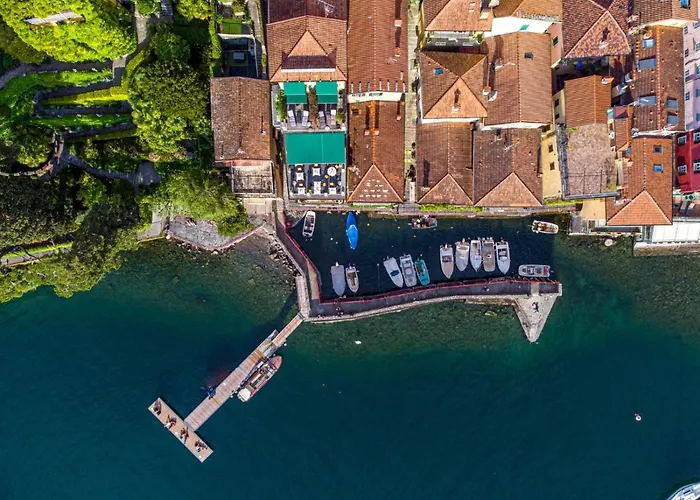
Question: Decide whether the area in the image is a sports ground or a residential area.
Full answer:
What you see here is a residential area.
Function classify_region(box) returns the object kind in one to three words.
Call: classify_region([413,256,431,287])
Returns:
boat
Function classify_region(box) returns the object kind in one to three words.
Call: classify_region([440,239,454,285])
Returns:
boat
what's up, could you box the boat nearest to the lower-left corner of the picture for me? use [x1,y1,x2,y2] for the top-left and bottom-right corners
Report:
[236,358,280,404]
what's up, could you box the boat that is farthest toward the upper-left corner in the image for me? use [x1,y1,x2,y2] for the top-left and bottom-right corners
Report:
[303,213,315,242]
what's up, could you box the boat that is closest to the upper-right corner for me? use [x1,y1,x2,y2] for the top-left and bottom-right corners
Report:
[526,220,559,233]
